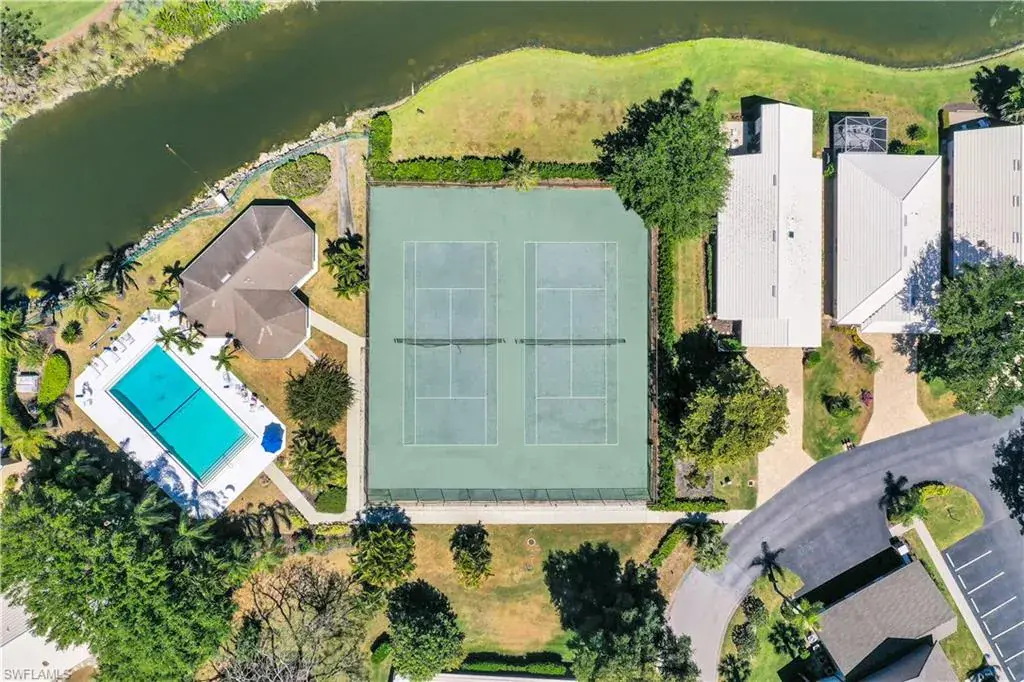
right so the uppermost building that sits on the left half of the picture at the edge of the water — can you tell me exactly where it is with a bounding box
[179,205,316,360]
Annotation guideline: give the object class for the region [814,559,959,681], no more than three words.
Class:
house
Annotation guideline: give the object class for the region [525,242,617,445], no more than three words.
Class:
tennis court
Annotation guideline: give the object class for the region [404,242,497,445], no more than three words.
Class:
tennis court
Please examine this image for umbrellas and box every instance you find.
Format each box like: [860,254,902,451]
[262,432,284,454]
